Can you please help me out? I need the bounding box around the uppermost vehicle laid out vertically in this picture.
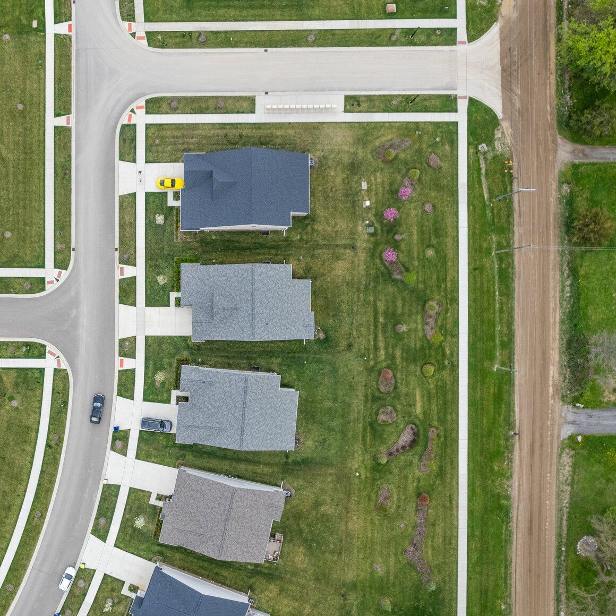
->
[90,394,104,424]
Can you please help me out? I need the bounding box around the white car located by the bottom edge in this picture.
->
[58,565,78,593]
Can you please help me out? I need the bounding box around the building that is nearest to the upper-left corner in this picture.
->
[179,148,310,236]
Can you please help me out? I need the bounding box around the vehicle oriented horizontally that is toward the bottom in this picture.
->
[140,418,172,432]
